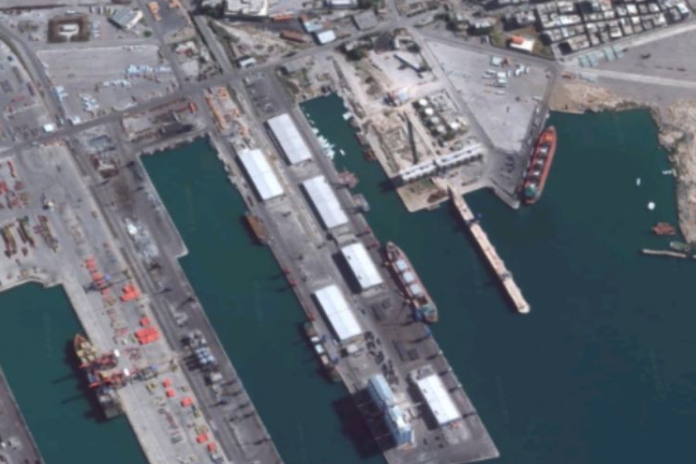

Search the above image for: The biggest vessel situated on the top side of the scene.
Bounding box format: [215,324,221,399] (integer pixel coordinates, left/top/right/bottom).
[523,125,554,205]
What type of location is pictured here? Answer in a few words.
port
